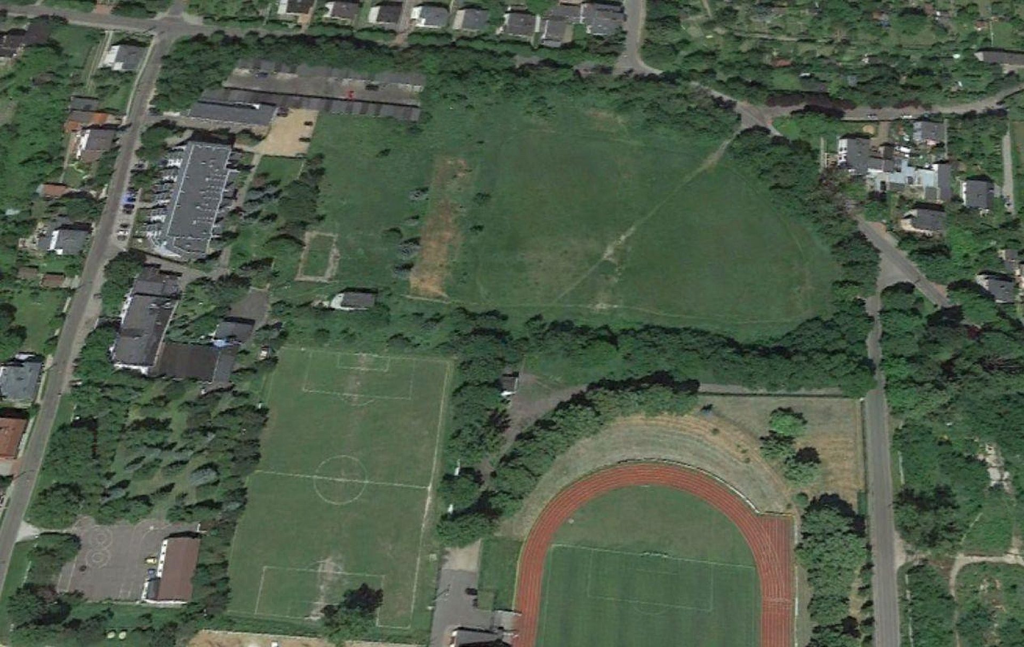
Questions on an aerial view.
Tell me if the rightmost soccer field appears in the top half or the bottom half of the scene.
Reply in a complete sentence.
The rightmost soccer field is in the bottom half of the image.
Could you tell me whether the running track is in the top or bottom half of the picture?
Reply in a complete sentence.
Seen from above, the running track lies in the bottom half of the view.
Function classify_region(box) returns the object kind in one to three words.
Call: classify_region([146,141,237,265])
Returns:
building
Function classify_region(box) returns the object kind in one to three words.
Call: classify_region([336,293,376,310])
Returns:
shed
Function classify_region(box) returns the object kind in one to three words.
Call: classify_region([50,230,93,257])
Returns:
house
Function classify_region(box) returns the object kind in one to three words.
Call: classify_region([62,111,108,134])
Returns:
house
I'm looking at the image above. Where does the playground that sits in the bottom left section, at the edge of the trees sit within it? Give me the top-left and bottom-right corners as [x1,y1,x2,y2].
[55,515,202,600]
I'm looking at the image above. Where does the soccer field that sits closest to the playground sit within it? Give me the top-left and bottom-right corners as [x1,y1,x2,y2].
[216,344,455,633]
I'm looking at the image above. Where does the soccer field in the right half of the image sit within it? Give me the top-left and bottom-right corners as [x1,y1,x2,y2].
[539,488,763,647]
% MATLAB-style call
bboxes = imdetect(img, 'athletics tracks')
[508,461,797,647]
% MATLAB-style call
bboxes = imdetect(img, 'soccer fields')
[216,344,455,633]
[539,488,763,647]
